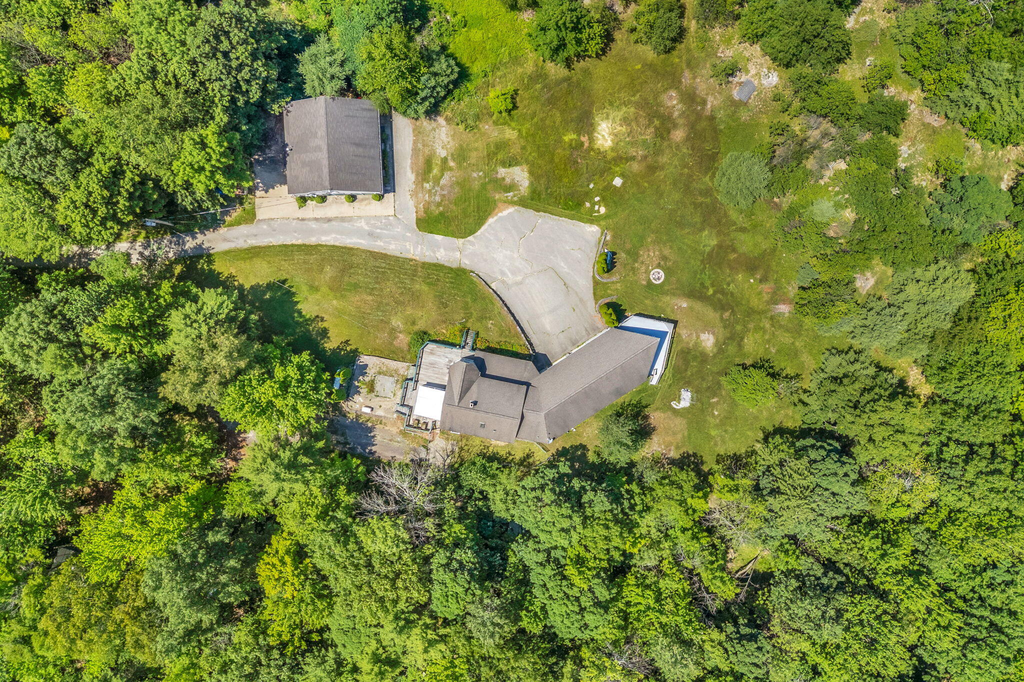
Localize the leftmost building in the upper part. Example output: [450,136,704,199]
[284,97,384,197]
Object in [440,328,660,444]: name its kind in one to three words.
house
